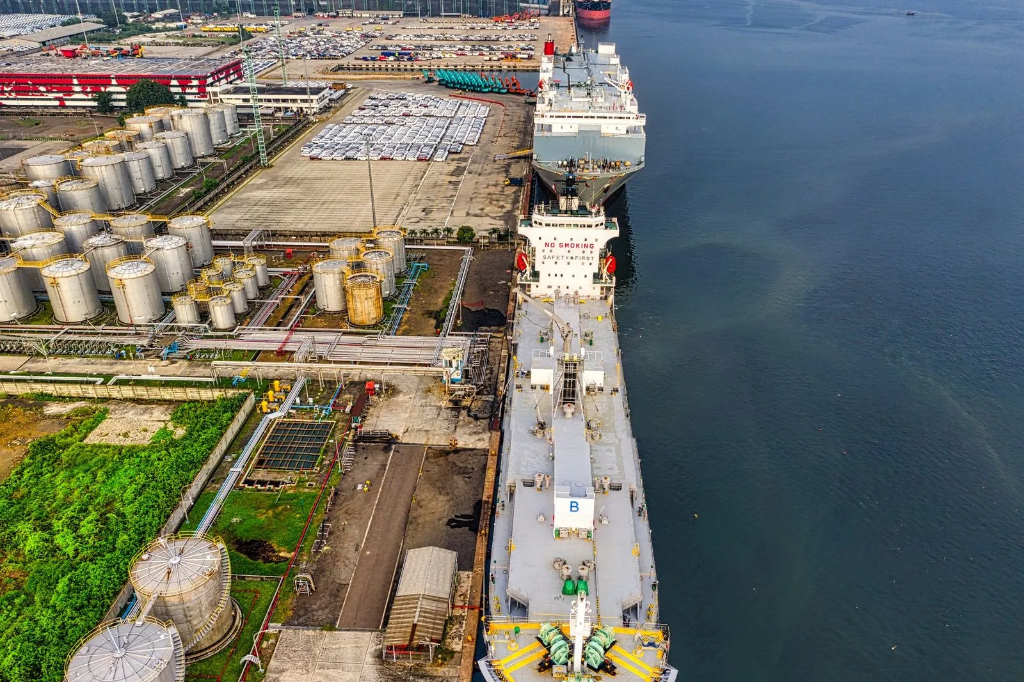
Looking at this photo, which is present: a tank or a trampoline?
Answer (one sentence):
Of the two, only a tank appears.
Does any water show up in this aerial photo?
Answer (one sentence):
Yes, water shows up in the scene.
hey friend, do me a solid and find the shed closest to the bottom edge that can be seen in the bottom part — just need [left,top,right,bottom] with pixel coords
[377,549,460,664]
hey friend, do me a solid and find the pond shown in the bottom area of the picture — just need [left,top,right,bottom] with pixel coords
[247,416,339,475]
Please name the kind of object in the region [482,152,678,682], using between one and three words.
ship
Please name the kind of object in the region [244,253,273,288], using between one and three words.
storage tank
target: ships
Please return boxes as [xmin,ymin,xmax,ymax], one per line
[482,152,678,682]
[575,0,611,18]
[534,30,647,203]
